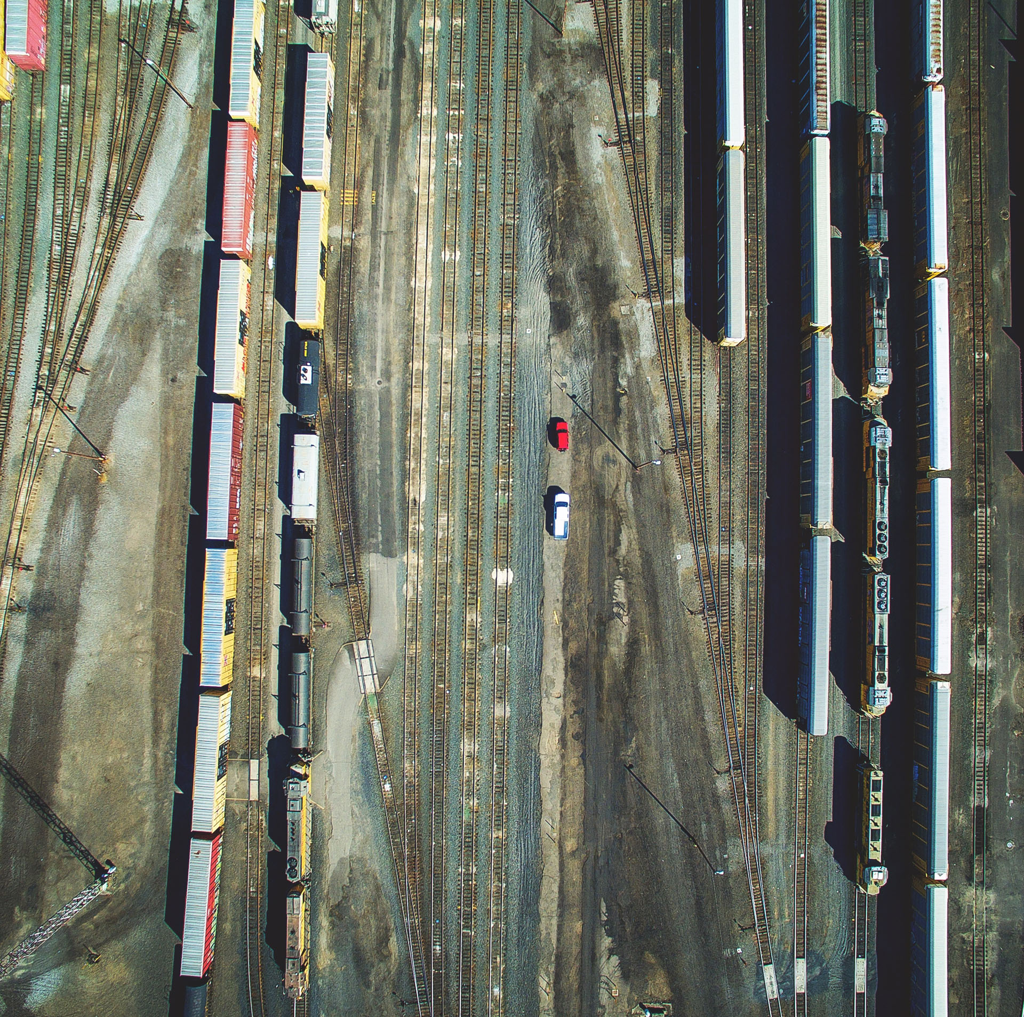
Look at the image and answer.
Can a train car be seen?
Yes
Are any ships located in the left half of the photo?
No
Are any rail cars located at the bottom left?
Yes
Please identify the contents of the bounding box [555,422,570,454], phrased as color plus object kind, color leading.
red car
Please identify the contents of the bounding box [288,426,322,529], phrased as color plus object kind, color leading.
white rail car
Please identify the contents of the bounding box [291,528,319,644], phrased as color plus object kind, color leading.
gray rail car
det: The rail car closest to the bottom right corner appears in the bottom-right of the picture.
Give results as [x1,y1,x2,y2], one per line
[852,759,886,904]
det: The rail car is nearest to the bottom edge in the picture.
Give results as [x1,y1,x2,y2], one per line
[180,970,214,1017]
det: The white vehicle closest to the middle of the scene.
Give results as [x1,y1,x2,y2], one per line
[553,493,570,539]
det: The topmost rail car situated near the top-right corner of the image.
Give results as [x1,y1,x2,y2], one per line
[851,101,886,254]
